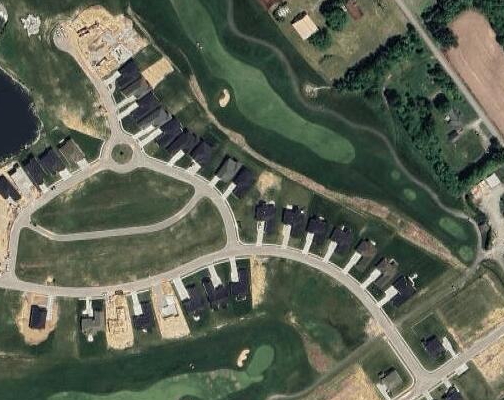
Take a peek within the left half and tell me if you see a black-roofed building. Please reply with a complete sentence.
Yes, a black-roofed building is visible within the left half.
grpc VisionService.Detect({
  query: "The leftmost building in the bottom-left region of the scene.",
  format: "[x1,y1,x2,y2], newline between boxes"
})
[28,304,49,330]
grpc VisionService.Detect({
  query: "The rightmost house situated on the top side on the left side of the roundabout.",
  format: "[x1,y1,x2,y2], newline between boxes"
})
[57,137,86,165]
